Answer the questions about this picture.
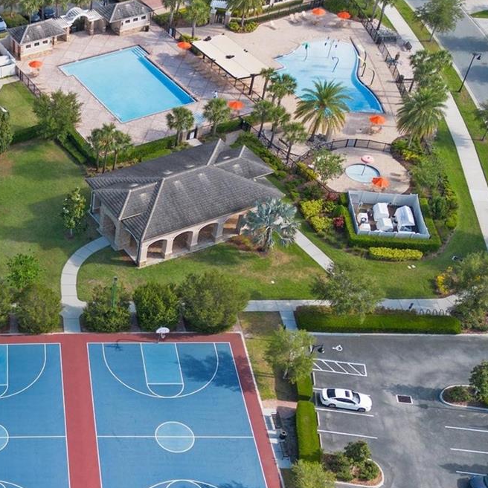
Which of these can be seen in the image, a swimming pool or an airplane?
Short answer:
swimming pool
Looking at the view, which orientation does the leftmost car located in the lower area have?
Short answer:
horizontally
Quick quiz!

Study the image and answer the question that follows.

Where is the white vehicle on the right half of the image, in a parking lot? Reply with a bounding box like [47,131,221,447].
[320,386,373,410]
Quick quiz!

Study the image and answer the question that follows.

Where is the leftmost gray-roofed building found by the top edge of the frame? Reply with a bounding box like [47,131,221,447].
[5,19,66,59]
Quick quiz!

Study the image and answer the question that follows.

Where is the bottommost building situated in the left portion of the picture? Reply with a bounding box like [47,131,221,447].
[86,139,284,268]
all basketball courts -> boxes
[73,332,281,488]
[0,336,87,488]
